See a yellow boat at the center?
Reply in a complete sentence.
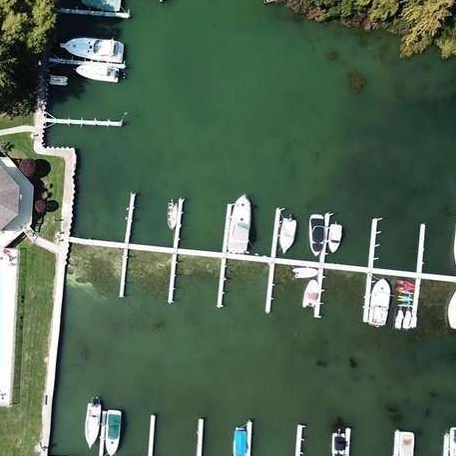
No, no yellow boat is visible at the center.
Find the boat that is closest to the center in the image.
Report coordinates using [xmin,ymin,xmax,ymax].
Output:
[229,191,254,255]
